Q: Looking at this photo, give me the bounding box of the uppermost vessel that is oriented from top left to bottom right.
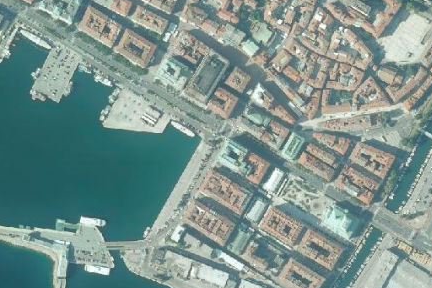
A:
[19,27,50,47]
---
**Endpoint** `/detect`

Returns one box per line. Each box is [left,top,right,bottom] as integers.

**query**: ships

[80,215,106,225]
[19,27,50,47]
[84,264,110,275]
[172,122,193,136]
